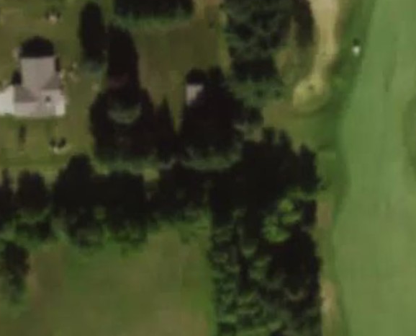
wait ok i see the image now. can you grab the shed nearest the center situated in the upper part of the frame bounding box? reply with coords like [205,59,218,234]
[186,83,204,104]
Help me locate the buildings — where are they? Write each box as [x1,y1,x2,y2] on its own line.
[186,83,204,104]
[12,58,64,114]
